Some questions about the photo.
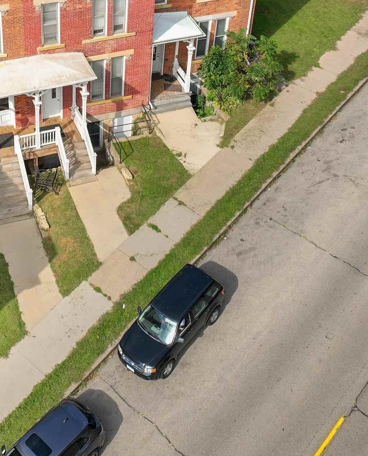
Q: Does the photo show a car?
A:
Yes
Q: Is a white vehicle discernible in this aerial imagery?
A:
No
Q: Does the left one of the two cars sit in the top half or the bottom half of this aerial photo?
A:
bottom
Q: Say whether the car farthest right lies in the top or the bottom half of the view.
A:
bottom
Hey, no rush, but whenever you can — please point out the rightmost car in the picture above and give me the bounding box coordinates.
[106,256,223,387]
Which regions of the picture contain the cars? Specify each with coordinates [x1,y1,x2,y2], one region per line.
[106,256,223,387]
[0,386,106,456]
